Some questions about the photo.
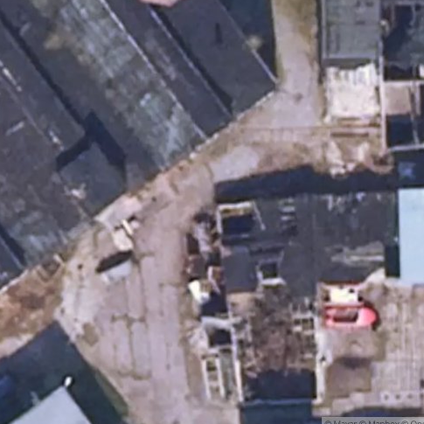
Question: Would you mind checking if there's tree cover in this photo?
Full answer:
No, the scene doesn't show any tree cover.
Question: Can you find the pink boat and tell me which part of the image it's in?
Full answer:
Look in the bottom right portion of the view to spot the pink boat.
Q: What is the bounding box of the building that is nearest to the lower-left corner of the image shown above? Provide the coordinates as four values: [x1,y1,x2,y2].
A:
[6,386,92,424]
